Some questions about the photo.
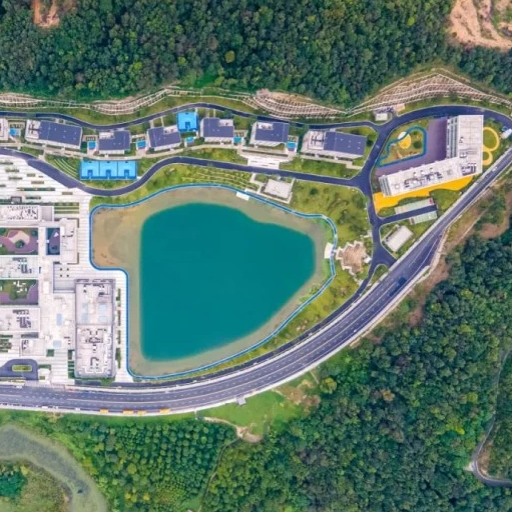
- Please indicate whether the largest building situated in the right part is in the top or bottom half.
top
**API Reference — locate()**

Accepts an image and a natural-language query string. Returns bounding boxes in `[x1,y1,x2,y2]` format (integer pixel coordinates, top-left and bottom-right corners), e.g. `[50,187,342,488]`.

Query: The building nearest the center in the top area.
[263,181,292,198]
